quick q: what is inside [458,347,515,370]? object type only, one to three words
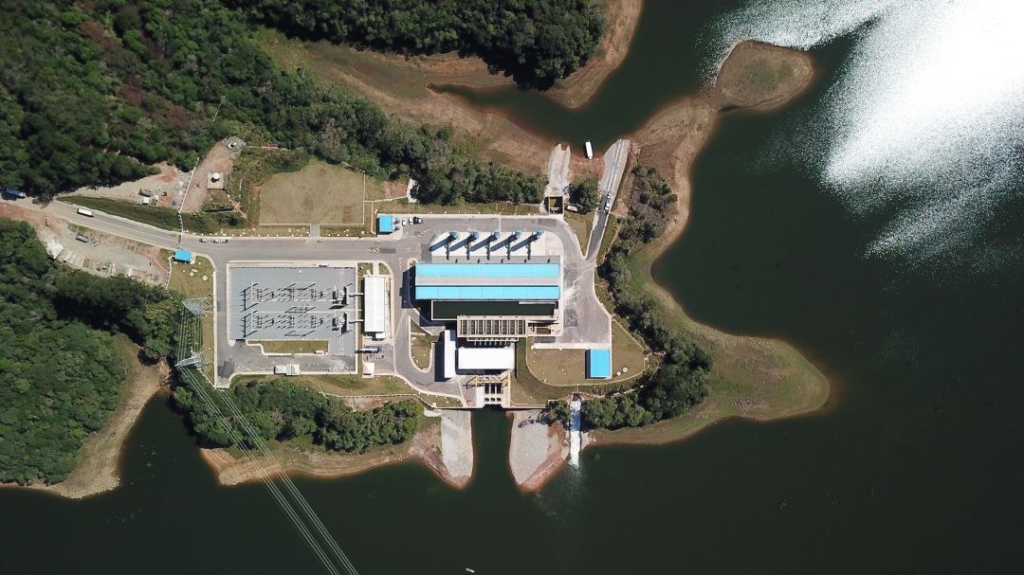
building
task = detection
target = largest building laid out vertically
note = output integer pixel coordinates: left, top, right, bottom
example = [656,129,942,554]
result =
[365,276,390,334]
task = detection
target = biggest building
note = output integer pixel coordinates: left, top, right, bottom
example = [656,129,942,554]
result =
[414,263,560,299]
